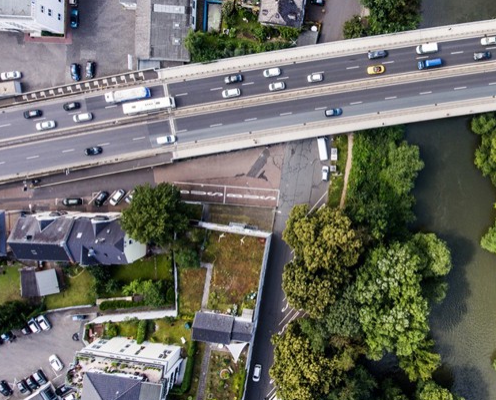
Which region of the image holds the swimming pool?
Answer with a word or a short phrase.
top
